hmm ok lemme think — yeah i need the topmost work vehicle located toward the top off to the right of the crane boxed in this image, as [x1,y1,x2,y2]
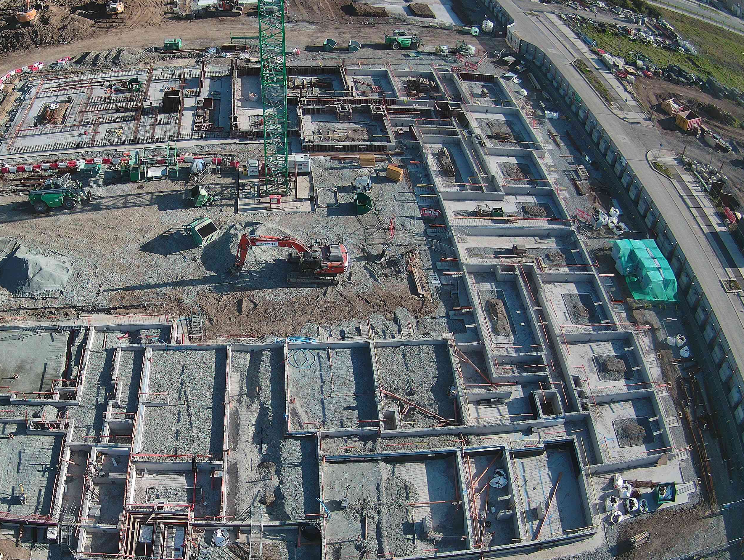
[389,29,432,51]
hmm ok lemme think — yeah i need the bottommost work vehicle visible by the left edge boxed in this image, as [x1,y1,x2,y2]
[23,172,99,216]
